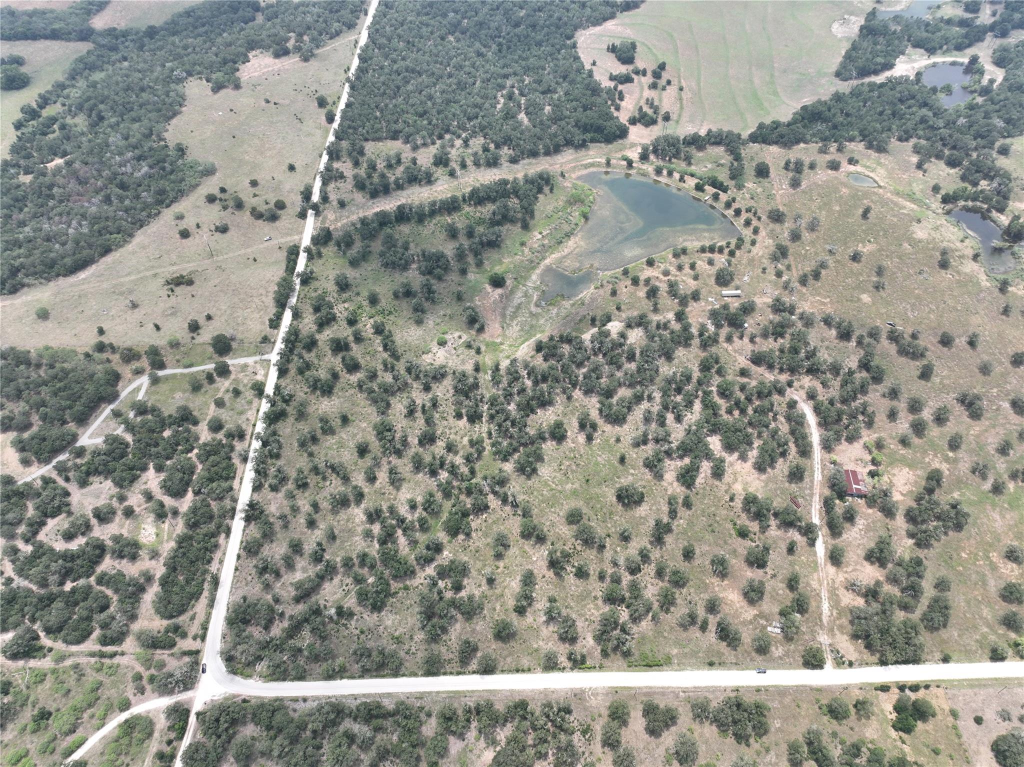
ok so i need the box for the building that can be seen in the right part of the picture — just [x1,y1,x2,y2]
[843,465,870,493]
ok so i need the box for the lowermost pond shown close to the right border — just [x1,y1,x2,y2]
[947,209,1024,273]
